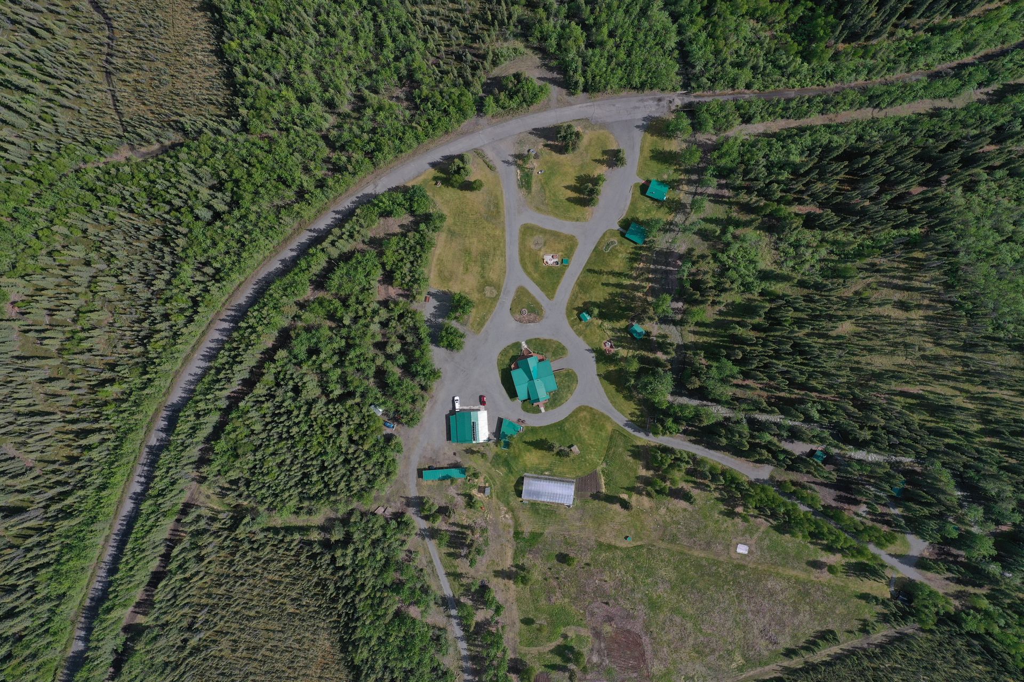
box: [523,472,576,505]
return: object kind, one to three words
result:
greenhouse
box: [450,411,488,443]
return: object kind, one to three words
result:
building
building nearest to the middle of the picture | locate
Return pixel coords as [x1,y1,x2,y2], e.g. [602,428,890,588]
[511,348,558,408]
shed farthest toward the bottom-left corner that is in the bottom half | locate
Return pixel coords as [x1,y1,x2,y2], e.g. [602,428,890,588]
[422,466,466,481]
